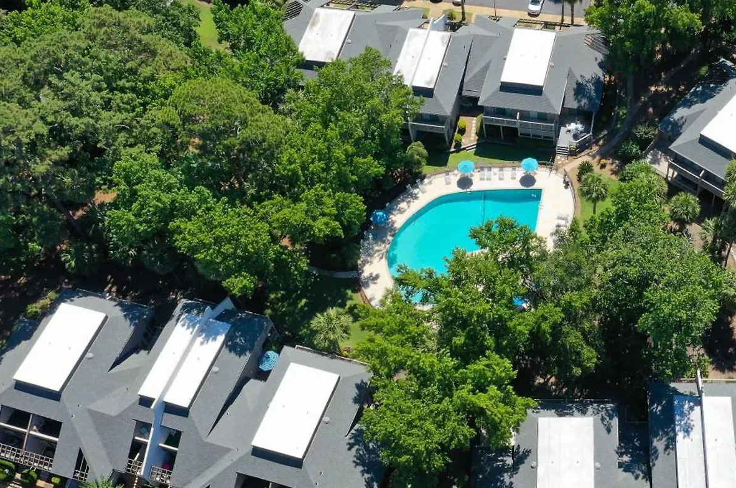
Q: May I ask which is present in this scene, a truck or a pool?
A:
pool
